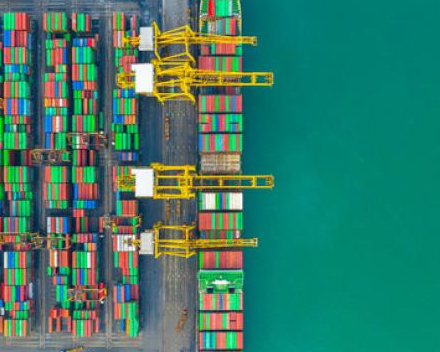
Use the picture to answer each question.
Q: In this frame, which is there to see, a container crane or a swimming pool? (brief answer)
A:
container crane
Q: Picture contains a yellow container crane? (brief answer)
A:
Yes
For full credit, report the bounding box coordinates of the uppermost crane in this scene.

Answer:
[123,24,257,68]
